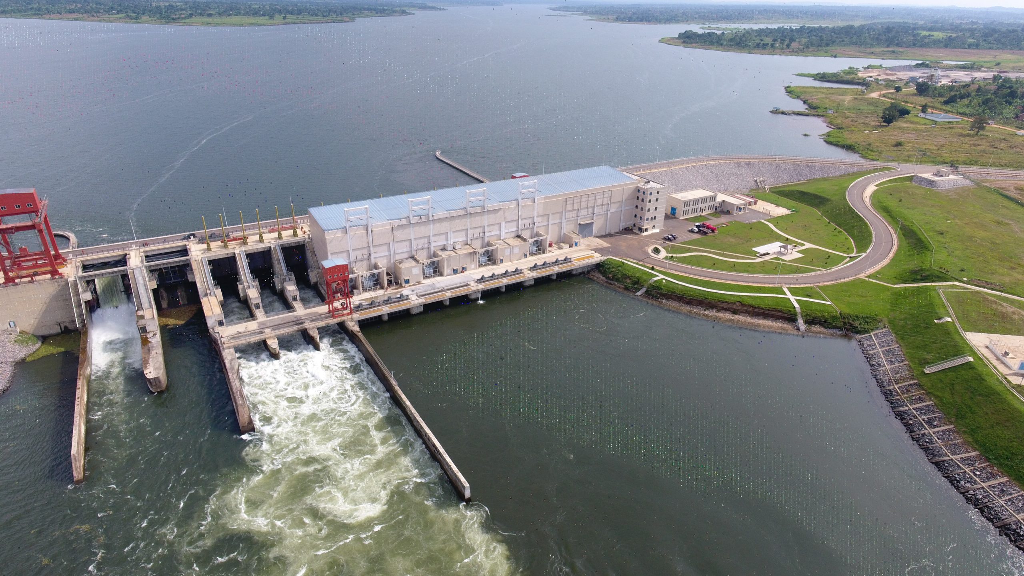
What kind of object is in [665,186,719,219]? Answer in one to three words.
building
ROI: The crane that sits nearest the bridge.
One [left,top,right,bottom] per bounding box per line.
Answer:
[319,257,354,319]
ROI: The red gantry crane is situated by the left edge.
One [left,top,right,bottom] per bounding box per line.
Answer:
[0,181,68,285]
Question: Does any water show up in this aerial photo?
Yes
